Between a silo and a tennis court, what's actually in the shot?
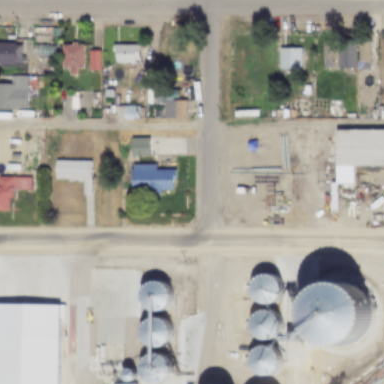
silo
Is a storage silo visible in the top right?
No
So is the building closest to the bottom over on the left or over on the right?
left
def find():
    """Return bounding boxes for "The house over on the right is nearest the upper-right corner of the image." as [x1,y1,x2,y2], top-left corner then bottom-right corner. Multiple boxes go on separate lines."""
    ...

[324,42,359,69]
